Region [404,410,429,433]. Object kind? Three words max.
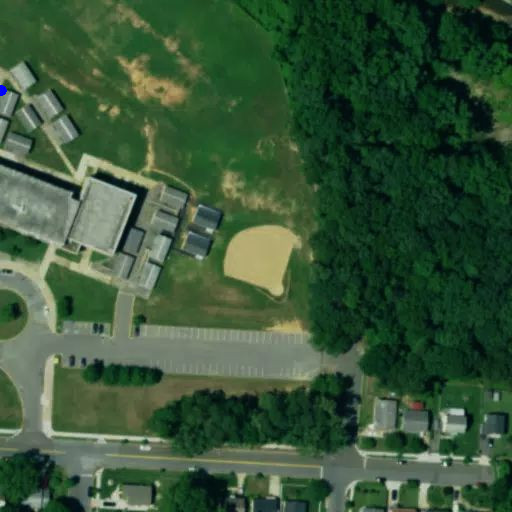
house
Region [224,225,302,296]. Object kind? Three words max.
baseball field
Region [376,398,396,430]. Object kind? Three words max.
house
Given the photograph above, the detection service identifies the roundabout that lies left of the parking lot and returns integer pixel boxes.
[0,272,44,340]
